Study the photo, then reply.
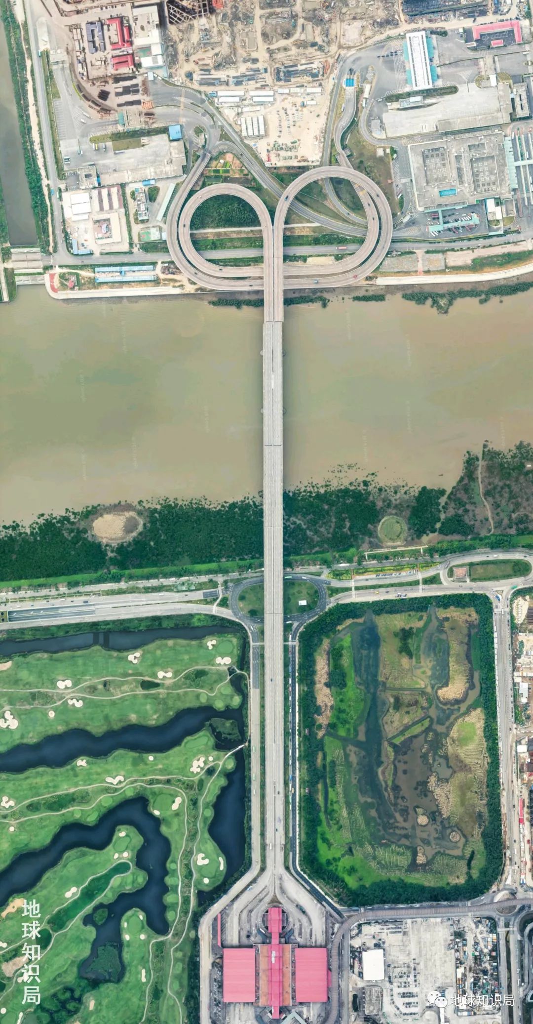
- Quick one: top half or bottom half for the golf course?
bottom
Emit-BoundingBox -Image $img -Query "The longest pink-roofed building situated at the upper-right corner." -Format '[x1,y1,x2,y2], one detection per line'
[473,19,523,43]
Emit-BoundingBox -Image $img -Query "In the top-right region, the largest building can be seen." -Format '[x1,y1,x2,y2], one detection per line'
[409,130,513,211]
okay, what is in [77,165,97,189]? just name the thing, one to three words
building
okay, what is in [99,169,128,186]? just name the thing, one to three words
building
